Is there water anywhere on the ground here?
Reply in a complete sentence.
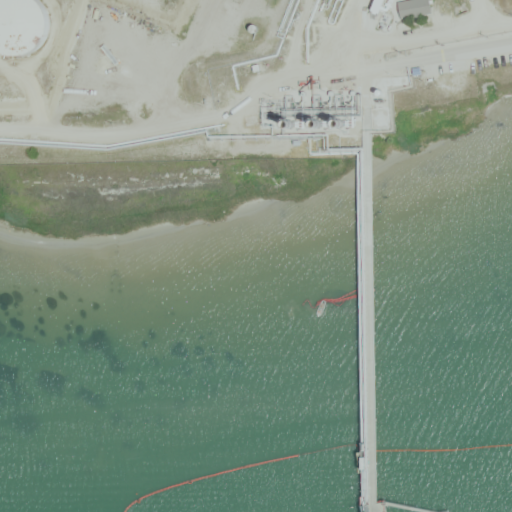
Yes, water shows up in the scene.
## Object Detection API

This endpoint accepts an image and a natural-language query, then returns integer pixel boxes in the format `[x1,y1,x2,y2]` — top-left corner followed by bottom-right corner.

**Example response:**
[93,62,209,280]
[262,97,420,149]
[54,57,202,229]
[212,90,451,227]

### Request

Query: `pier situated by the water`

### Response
[356,133,377,512]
